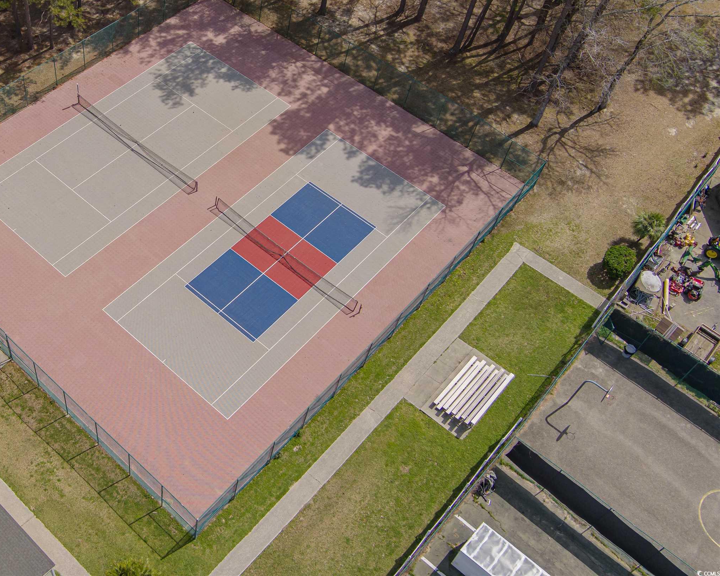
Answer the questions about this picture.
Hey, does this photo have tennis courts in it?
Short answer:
Yes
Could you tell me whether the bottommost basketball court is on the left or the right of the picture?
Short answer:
right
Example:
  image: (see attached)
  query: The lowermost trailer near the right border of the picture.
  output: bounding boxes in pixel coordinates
[682,324,720,366]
